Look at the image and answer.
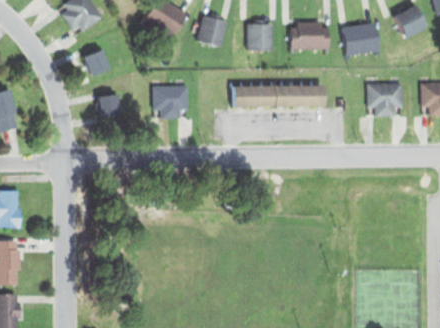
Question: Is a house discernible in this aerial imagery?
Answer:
Yes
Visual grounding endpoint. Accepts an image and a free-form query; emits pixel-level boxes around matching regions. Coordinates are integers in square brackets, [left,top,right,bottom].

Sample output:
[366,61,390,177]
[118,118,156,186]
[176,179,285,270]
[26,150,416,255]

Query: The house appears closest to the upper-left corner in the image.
[62,0,102,34]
